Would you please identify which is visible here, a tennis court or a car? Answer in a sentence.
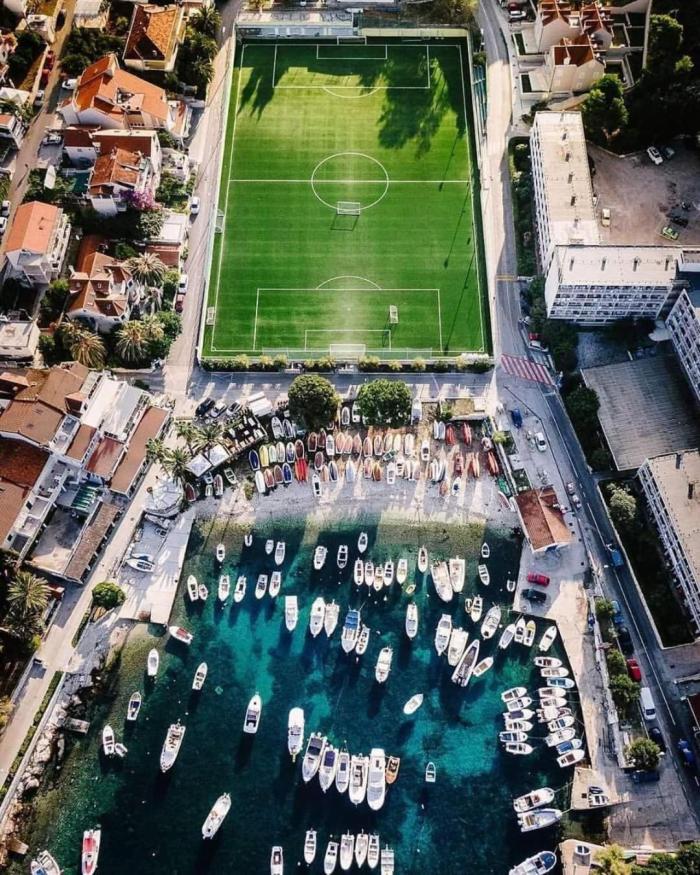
Visible in the photo is a car.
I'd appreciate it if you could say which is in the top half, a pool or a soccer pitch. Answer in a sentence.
Looking in the top half, you will find a soccer pitch.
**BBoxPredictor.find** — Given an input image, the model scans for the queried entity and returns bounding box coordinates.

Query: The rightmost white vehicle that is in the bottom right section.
[640,685,659,719]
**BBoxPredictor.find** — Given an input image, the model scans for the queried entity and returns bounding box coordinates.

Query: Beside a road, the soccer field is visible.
[202,41,493,355]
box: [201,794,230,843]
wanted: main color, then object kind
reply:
white boat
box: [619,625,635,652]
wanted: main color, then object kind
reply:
black car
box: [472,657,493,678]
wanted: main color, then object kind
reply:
white boat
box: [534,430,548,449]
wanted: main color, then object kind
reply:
white vehicle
